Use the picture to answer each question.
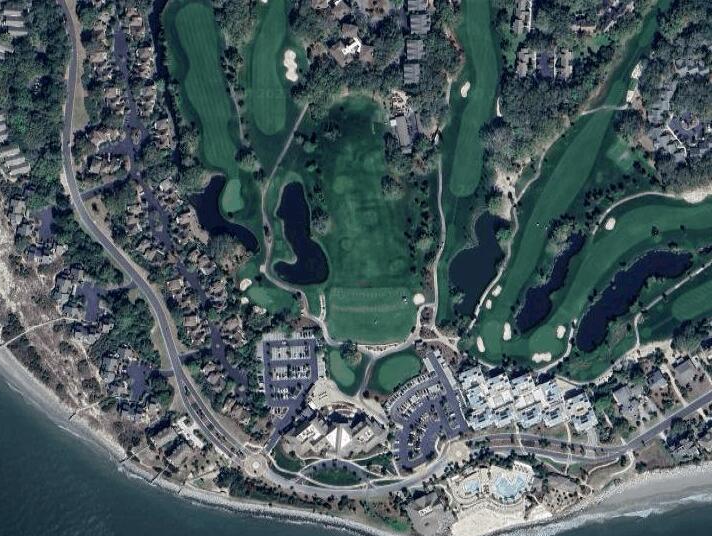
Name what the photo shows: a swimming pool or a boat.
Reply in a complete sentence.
Visible in the photo is a swimming pool.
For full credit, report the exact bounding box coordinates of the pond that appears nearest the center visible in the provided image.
[273,182,328,284]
